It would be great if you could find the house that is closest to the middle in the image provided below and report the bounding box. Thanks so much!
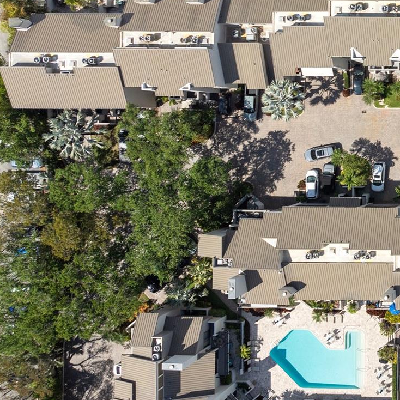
[197,209,302,305]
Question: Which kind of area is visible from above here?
residential area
